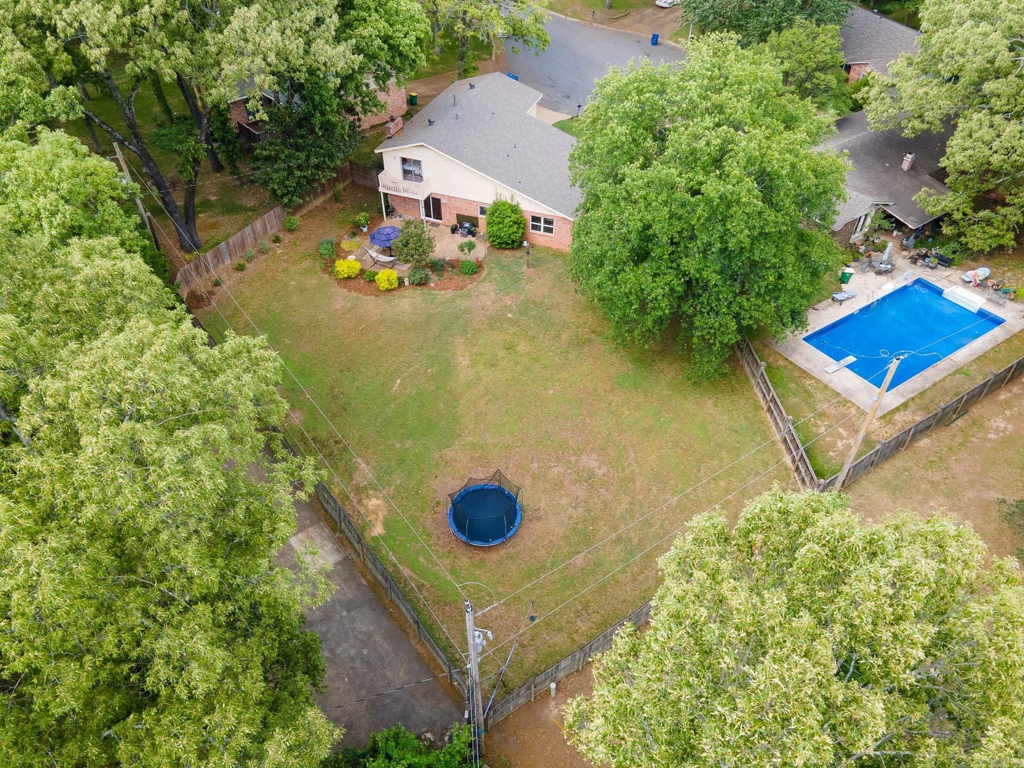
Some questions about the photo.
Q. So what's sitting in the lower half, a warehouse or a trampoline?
trampoline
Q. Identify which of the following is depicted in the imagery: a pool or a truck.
pool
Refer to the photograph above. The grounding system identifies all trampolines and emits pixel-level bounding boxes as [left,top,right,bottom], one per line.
[444,466,525,554]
